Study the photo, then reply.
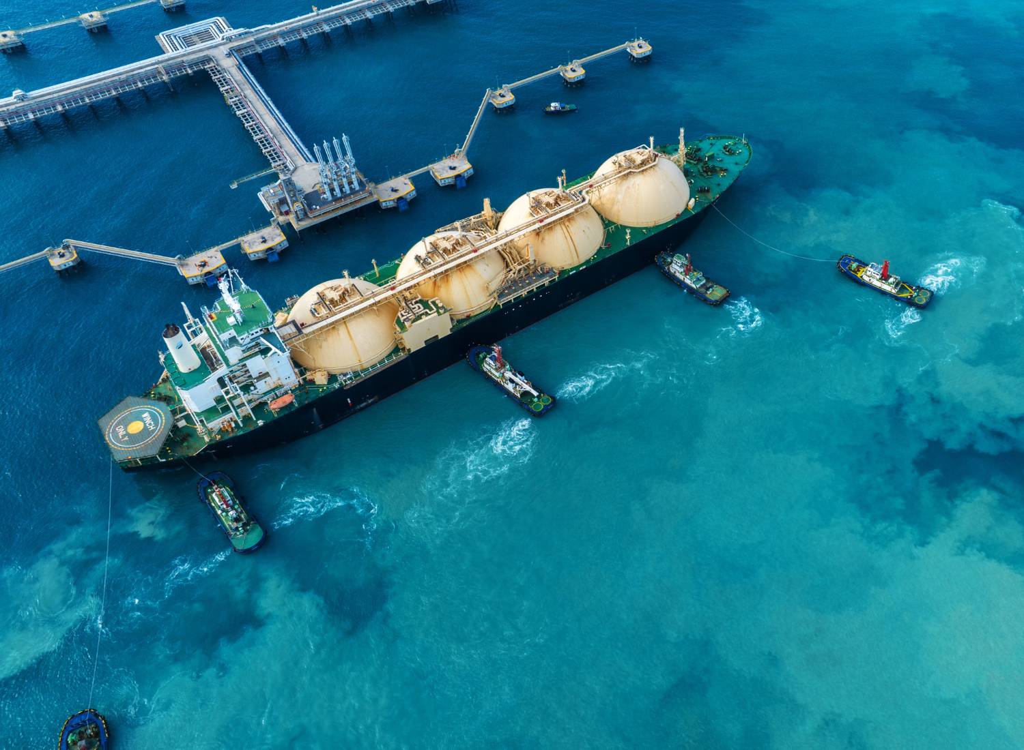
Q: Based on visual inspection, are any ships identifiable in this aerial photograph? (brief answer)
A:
Yes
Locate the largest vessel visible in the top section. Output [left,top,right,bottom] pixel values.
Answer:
[98,125,751,470]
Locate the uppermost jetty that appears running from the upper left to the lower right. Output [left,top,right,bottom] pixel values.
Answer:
[152,45,318,181]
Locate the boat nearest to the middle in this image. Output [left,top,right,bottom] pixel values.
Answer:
[468,341,560,418]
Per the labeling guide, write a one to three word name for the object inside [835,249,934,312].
boat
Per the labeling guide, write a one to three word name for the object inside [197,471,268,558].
boat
